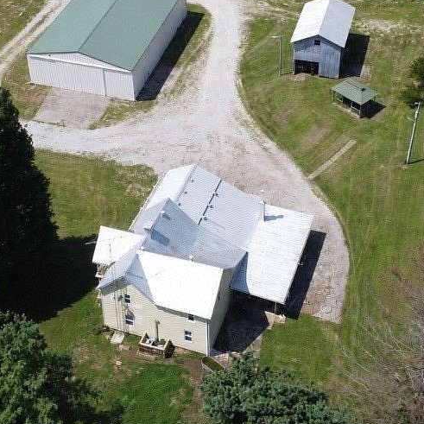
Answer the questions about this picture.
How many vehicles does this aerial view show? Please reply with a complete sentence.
Not a single vehicle can be seen.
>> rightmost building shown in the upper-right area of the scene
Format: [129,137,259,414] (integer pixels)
[330,76,385,120]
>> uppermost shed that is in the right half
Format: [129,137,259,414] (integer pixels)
[294,0,351,79]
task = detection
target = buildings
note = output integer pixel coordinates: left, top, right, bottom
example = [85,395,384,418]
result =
[330,76,385,120]
[85,164,316,352]
[24,0,187,100]
[294,0,351,79]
